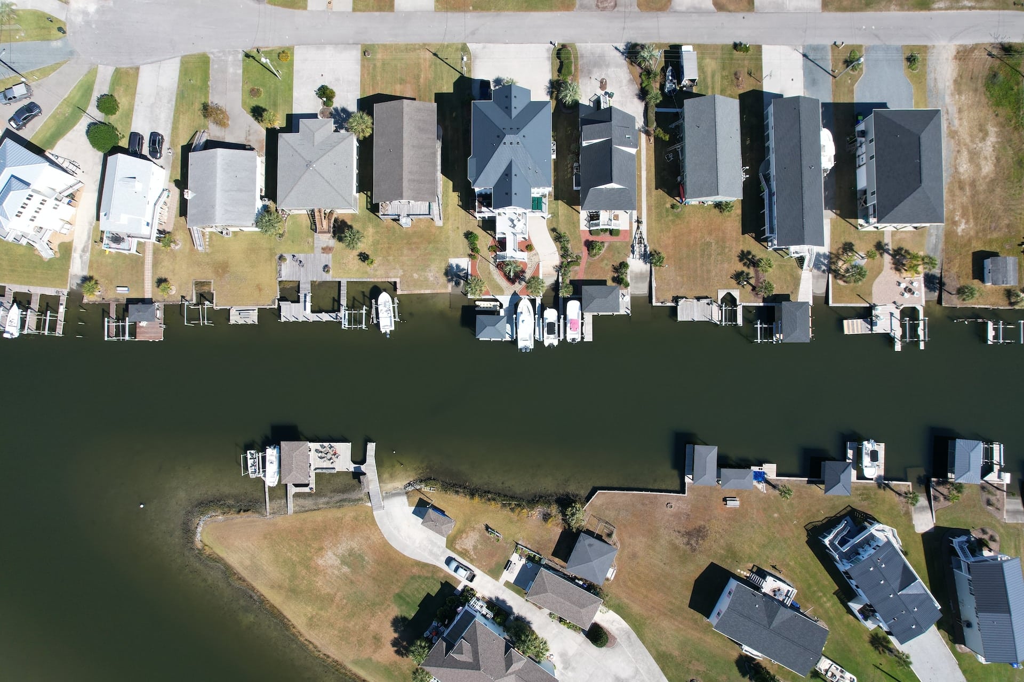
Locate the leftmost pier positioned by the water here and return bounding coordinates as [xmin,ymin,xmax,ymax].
[0,284,75,336]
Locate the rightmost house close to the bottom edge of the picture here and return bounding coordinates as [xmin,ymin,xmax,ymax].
[949,535,1024,665]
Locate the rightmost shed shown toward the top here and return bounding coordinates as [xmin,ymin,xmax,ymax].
[982,256,1018,285]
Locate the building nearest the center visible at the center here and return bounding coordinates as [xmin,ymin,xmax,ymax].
[476,315,507,338]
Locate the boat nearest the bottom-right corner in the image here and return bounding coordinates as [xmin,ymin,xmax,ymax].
[814,654,855,682]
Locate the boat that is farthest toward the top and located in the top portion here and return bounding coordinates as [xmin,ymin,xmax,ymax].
[665,65,677,99]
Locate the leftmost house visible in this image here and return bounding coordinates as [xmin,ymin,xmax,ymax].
[0,137,85,259]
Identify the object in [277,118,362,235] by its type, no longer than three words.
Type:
house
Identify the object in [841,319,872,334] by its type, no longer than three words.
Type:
pier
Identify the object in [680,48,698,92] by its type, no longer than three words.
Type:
vehicle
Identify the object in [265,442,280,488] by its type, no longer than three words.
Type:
boat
